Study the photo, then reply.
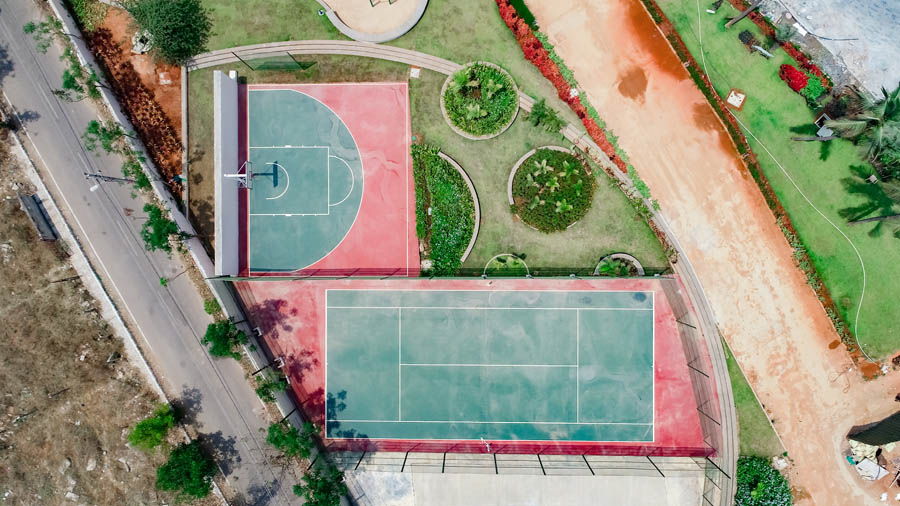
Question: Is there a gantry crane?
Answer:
No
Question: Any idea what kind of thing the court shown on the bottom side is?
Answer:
tennis court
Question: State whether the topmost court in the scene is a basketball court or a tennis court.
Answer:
basketball court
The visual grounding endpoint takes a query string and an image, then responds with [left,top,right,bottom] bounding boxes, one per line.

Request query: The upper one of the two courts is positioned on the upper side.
[237,82,419,277]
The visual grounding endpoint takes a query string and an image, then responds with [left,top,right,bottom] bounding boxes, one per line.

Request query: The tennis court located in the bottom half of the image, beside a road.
[225,278,722,457]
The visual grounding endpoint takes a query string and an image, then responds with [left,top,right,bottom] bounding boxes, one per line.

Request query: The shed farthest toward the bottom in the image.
[846,411,900,445]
